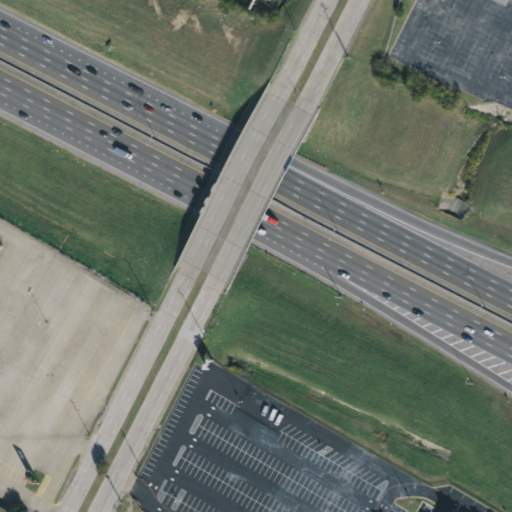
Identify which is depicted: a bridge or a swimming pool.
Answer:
bridge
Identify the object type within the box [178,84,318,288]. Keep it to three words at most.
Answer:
bridge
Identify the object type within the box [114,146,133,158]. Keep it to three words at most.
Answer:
vehicle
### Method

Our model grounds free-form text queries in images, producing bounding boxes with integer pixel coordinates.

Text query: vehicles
[86,66,98,74]
[144,104,154,112]
[463,334,474,342]
[256,228,268,237]
[99,131,110,139]
[270,409,277,422]
[130,85,143,94]
[68,66,81,74]
[112,129,123,137]
[192,113,202,122]
[262,406,269,416]
[122,100,133,108]
[18,111,29,119]
[276,414,284,426]
[42,35,53,43]
[114,146,133,158]
[338,270,350,278]
[173,190,184,198]
[464,326,475,334]
[263,215,279,226]
[161,104,172,112]
[484,329,494,336]
[0,22,11,30]
[412,308,423,316]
